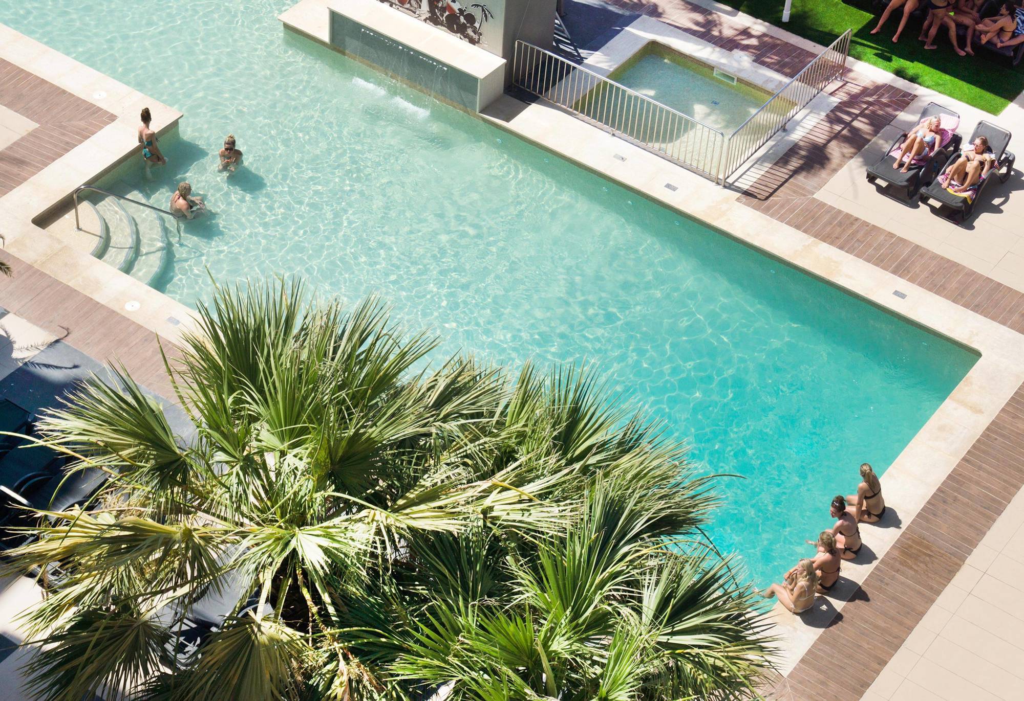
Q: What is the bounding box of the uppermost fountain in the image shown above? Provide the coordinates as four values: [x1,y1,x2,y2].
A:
[327,0,506,120]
